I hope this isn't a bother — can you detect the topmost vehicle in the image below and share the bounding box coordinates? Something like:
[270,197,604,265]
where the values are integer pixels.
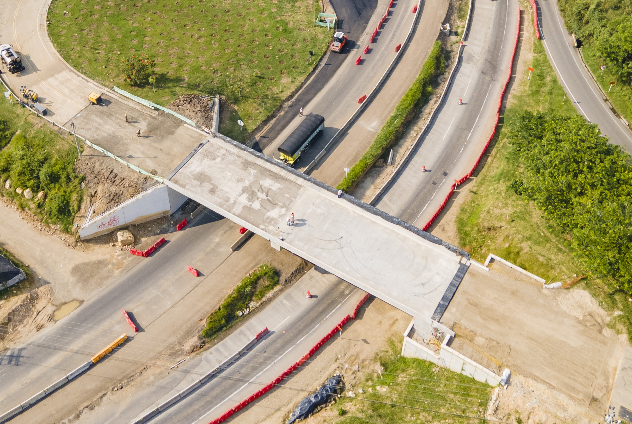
[0,38,25,74]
